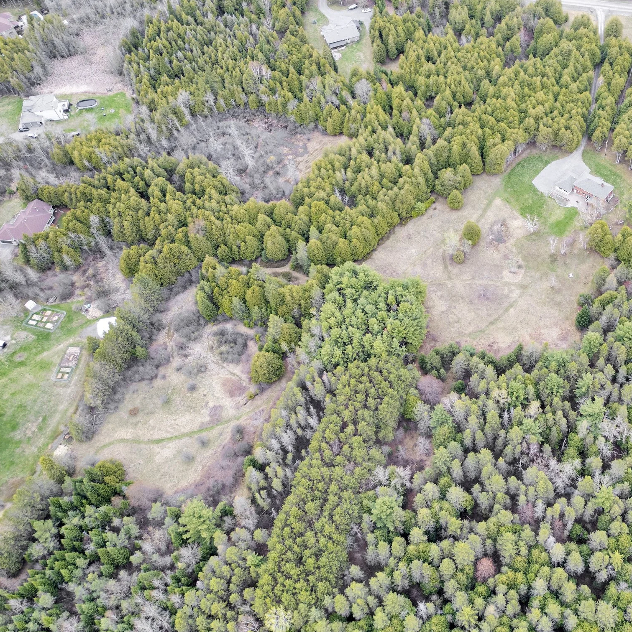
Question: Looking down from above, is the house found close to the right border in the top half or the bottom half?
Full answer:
It is in the top half that the house found close to the right border appears.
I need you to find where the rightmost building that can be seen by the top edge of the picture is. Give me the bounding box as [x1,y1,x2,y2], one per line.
[322,16,360,52]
